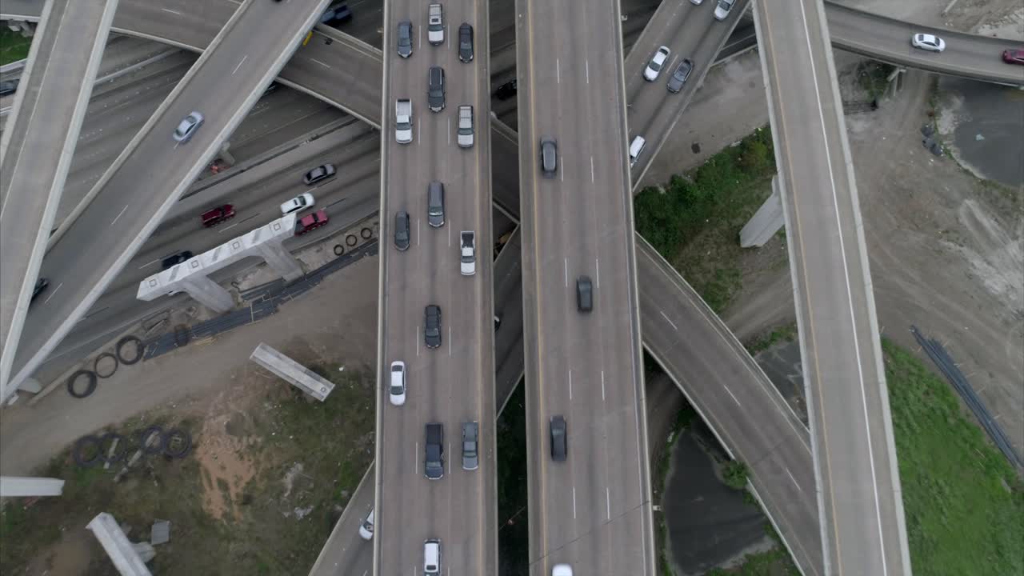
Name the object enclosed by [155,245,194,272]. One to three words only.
truck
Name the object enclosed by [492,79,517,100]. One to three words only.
car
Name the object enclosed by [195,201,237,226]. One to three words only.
truck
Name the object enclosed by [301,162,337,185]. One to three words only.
car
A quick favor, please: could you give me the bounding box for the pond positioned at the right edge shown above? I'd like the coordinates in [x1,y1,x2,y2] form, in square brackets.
[954,82,1024,190]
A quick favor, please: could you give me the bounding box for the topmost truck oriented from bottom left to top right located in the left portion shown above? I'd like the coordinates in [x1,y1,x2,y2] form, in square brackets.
[319,0,355,24]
